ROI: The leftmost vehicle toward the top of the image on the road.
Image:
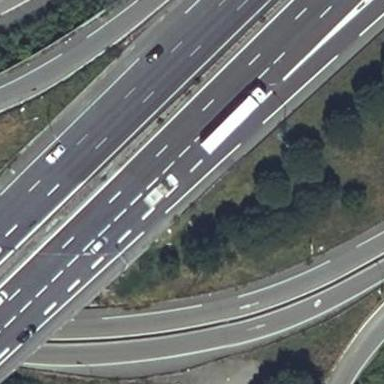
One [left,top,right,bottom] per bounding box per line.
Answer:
[46,144,65,162]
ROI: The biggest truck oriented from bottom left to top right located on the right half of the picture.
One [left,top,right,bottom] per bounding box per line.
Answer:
[200,88,268,155]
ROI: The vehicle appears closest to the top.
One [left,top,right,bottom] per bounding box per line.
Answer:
[144,43,164,62]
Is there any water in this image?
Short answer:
No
